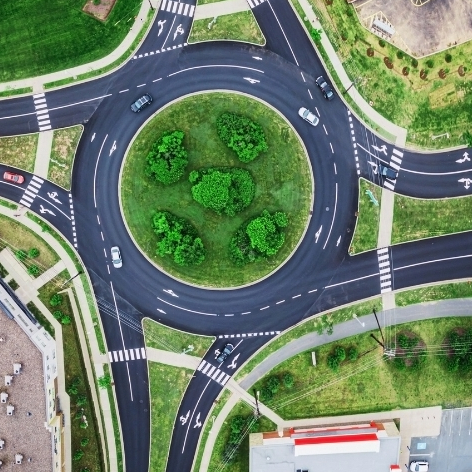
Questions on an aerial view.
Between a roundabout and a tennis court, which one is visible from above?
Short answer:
roundabout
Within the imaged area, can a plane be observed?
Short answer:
No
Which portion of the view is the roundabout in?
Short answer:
center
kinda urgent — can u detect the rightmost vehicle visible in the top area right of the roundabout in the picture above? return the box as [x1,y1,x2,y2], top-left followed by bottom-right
[376,164,401,180]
